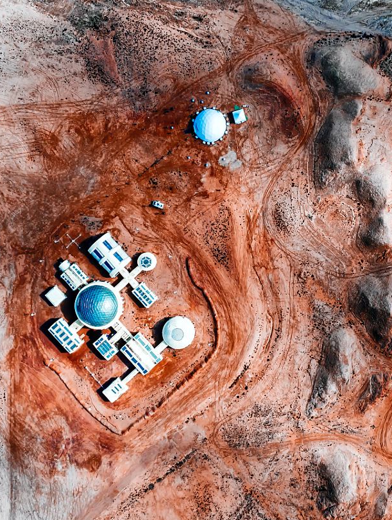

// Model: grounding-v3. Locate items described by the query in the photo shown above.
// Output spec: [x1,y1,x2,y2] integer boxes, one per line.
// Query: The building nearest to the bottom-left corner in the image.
[102,376,128,403]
